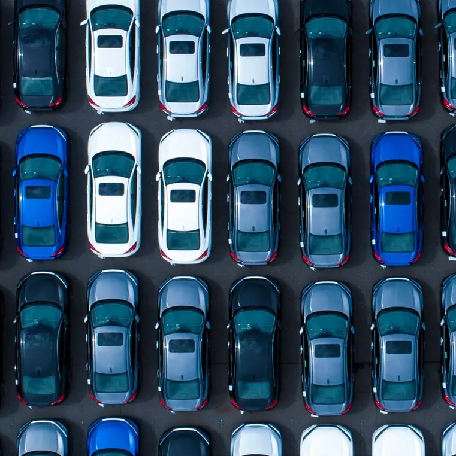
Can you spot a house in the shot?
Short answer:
No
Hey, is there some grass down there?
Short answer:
No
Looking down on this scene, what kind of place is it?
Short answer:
parking lot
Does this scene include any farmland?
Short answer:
No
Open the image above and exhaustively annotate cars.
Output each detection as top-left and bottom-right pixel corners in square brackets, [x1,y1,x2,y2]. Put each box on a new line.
[220,0,282,122]
[226,275,284,413]
[370,276,427,414]
[299,281,356,418]
[79,0,142,116]
[300,426,353,456]
[155,129,213,267]
[159,427,213,456]
[438,124,456,262]
[154,0,212,121]
[154,275,212,413]
[11,271,72,409]
[372,426,425,456]
[84,122,143,261]
[439,273,456,410]
[363,0,425,124]
[297,133,354,271]
[6,0,70,116]
[11,125,72,263]
[83,268,143,408]
[17,419,72,456]
[368,130,427,270]
[86,417,142,456]
[432,0,456,117]
[293,0,355,125]
[230,423,283,456]
[225,130,283,267]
